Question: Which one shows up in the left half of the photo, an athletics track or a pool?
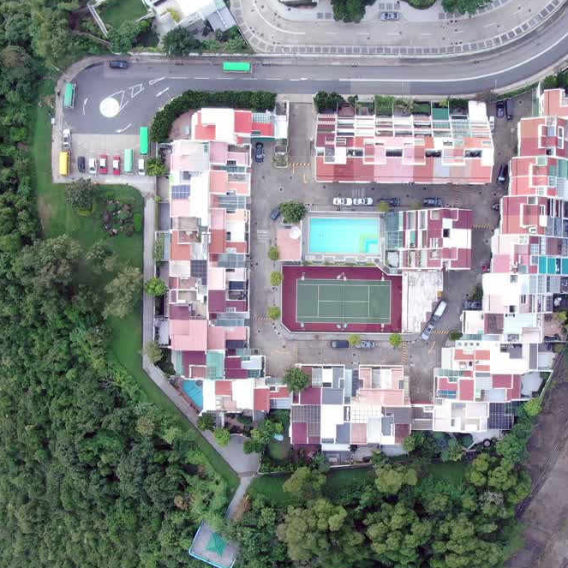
pool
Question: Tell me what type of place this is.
residential area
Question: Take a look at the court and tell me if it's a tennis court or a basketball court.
tennis court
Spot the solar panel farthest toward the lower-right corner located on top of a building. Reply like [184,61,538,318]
[489,403,512,429]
